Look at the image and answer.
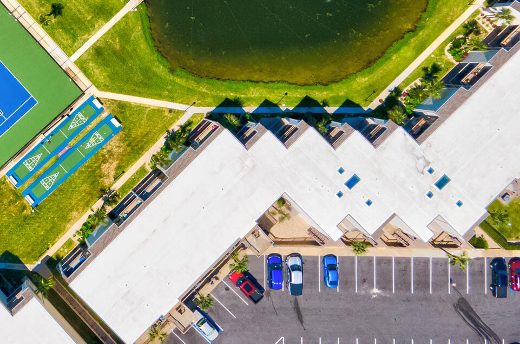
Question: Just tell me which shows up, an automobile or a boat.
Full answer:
The image shows an automobile.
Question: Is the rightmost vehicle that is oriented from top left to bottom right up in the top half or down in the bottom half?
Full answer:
You can find the rightmost vehicle that is oriented from top left to bottom right in the bottom half.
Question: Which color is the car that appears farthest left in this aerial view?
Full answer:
The car that appears farthest left is white.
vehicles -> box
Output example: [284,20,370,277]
[490,255,509,294]
[233,271,266,304]
[324,253,340,284]
[268,254,285,287]
[194,311,219,340]
[286,252,304,293]
[508,256,520,286]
